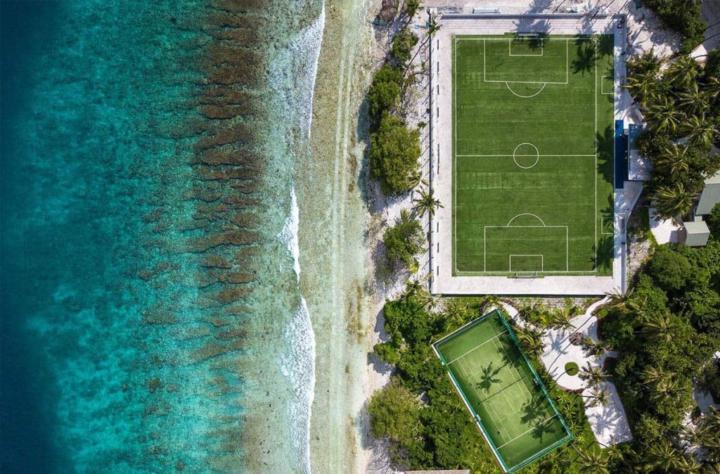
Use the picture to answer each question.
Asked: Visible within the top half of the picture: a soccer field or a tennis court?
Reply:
soccer field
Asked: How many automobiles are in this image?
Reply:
0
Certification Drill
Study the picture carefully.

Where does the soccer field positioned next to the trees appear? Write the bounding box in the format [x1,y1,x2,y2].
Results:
[453,32,614,278]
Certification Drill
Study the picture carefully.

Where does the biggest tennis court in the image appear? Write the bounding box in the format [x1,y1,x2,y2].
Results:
[438,312,569,472]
